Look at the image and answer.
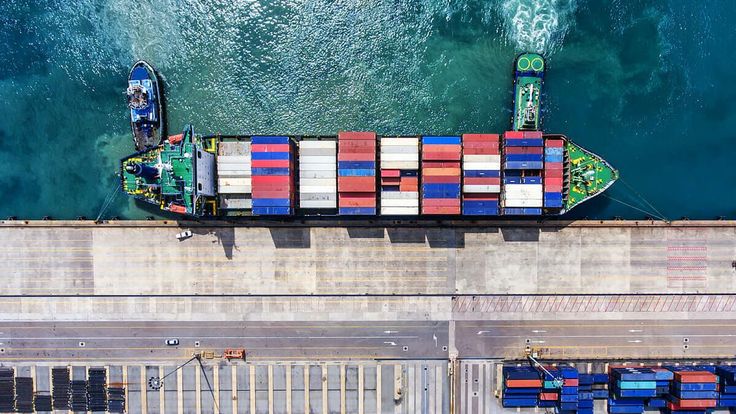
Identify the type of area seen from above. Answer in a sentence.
The area seen from above is a port.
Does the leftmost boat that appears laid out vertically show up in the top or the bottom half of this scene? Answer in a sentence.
The top half of the photo is where the leftmost boat that appears laid out vertically is.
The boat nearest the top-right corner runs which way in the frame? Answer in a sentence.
The boat nearest the top-right corner is laid out up and down.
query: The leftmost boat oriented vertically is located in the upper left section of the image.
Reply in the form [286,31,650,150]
[126,60,166,150]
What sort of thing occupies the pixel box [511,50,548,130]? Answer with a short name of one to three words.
boat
